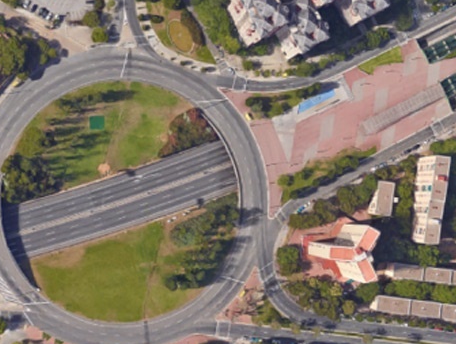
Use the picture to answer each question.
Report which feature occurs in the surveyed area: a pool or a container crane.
pool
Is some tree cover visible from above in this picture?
Yes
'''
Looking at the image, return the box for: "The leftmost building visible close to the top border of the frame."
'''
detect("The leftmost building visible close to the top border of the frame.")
[228,0,287,53]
